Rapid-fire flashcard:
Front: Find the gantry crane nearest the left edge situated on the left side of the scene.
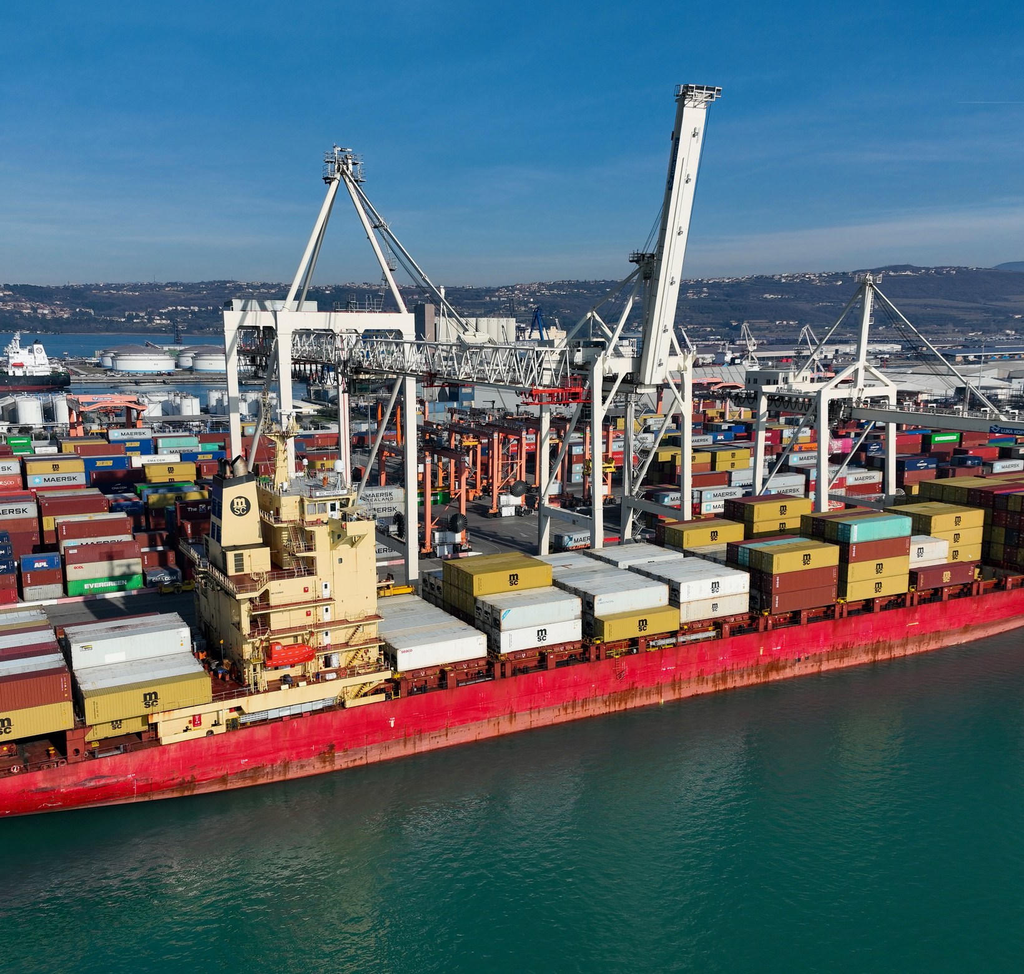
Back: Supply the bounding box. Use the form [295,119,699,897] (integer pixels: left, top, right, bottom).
[68,395,140,439]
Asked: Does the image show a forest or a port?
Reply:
port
